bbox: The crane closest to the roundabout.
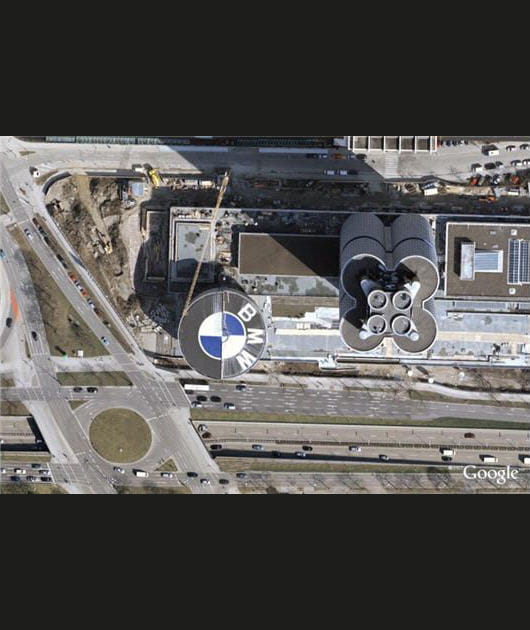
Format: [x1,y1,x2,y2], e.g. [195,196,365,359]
[182,164,231,318]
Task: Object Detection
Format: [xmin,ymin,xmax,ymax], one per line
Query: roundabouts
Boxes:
[88,407,153,465]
